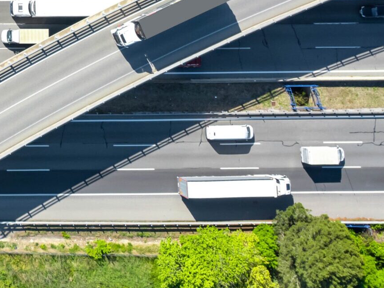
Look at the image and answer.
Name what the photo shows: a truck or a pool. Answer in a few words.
truck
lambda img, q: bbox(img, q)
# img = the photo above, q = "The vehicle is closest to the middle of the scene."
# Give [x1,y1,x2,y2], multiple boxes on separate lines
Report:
[204,124,250,142]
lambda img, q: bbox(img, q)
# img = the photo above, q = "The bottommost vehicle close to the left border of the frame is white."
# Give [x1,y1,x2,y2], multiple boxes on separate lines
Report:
[1,28,48,45]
